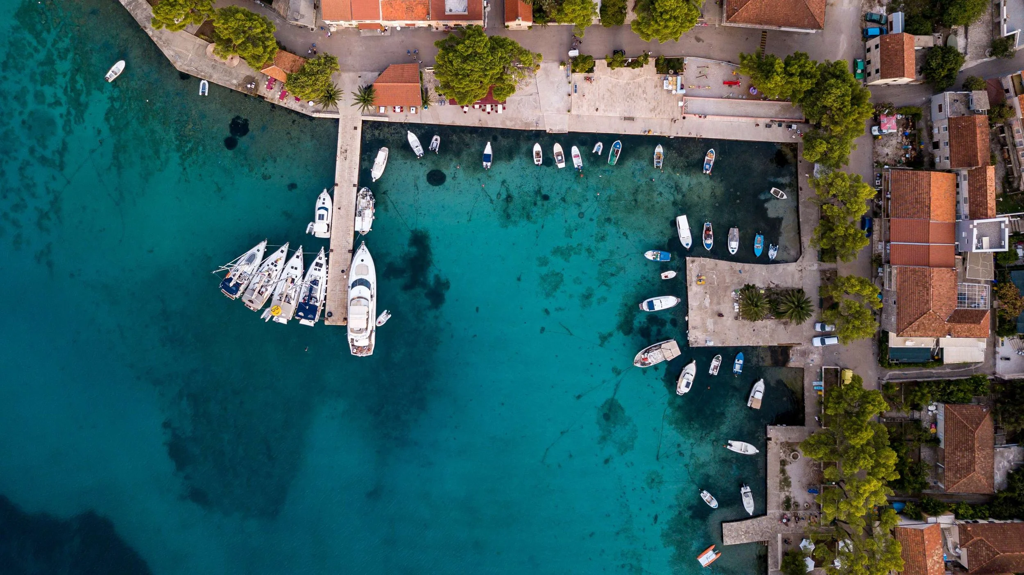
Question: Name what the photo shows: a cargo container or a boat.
boat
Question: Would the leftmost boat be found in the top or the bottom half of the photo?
top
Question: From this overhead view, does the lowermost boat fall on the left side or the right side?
right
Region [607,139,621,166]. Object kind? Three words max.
boat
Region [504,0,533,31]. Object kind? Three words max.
building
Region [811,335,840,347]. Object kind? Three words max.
vehicle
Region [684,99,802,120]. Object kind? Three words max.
sports court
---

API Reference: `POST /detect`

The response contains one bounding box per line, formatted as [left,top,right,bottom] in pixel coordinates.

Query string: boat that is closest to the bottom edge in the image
[697,547,721,568]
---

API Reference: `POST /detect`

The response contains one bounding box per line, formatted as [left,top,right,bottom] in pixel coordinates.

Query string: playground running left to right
[684,58,794,103]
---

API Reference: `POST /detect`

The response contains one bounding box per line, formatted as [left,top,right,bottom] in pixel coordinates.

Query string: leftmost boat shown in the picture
[101,60,127,84]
